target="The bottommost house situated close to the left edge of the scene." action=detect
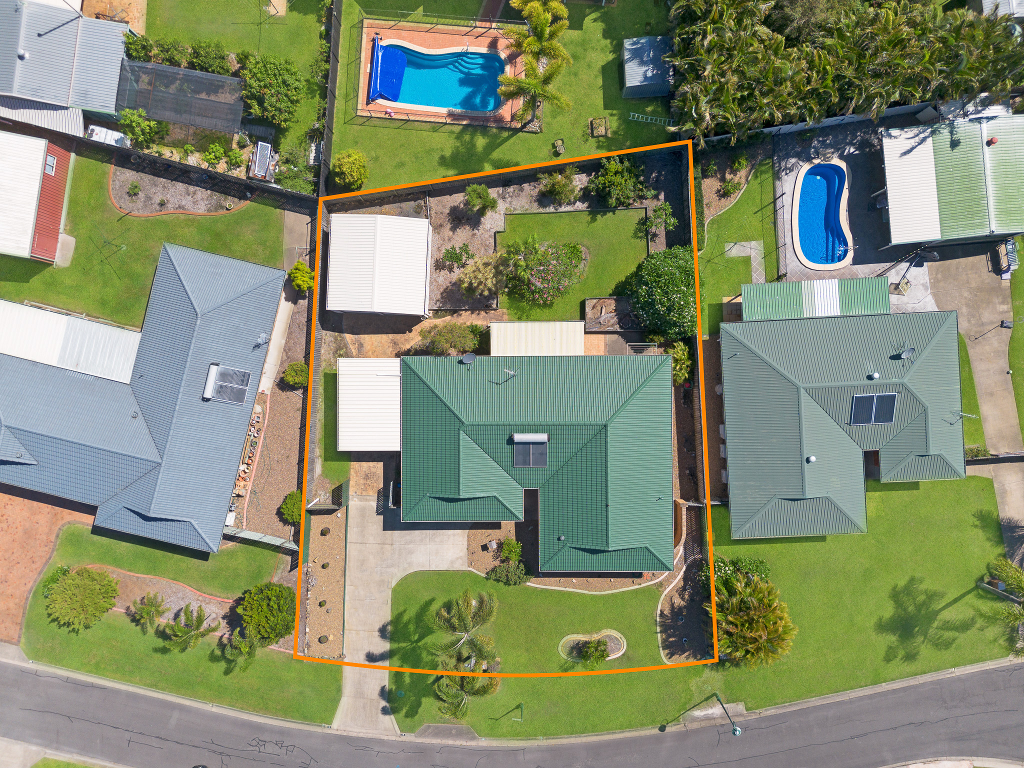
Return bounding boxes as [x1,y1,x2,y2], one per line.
[0,241,288,555]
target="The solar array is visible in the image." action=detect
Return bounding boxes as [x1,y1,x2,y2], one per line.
[852,393,898,426]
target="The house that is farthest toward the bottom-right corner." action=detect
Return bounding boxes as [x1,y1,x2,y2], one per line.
[717,309,968,542]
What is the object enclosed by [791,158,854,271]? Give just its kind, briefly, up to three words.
swimming pool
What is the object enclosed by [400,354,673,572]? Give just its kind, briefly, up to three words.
building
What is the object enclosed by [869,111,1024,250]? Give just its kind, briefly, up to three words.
shed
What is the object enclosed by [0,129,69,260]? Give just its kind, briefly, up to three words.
shed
